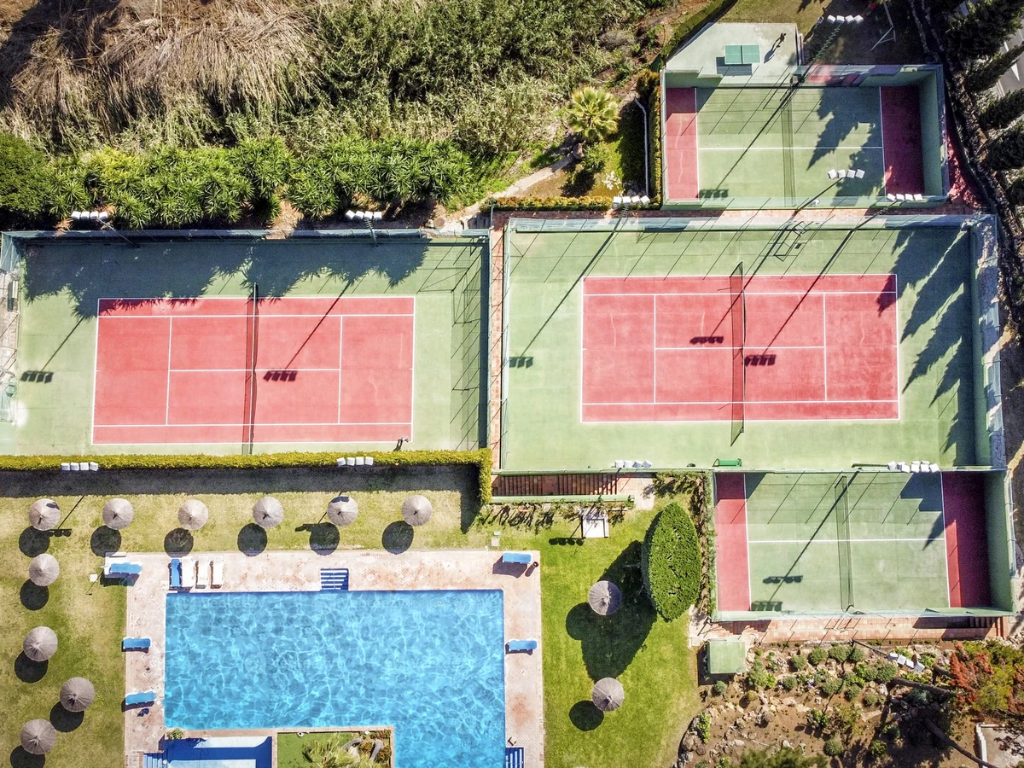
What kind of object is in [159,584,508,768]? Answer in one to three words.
swimming pool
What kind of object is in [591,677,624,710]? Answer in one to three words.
umbrella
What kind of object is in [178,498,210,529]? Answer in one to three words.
umbrella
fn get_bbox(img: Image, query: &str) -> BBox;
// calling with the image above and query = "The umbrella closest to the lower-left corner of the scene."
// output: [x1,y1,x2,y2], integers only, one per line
[20,717,58,755]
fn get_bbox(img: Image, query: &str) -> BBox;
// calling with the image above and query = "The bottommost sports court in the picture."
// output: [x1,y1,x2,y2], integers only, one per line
[697,469,996,614]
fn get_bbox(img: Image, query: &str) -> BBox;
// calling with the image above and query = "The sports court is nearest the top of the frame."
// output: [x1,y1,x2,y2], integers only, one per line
[664,81,927,211]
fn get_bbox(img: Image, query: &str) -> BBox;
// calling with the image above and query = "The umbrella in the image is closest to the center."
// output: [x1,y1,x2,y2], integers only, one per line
[402,495,433,526]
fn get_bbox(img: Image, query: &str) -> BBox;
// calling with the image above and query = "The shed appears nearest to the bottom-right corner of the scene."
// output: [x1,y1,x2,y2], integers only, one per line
[705,639,746,674]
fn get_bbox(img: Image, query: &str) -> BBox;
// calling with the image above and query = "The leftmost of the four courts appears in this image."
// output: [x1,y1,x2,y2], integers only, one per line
[0,243,489,456]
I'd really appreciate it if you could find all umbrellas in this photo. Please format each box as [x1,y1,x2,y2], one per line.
[60,675,96,712]
[253,496,284,527]
[103,497,135,529]
[178,498,210,529]
[23,625,60,661]
[29,553,61,585]
[402,495,433,526]
[20,717,58,755]
[32,498,63,530]
[327,495,358,526]
[591,677,624,710]
[588,580,621,614]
